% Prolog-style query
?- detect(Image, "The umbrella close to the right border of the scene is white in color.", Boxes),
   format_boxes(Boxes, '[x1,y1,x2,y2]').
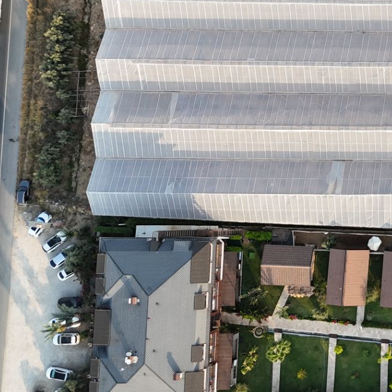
[367,237,381,250]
